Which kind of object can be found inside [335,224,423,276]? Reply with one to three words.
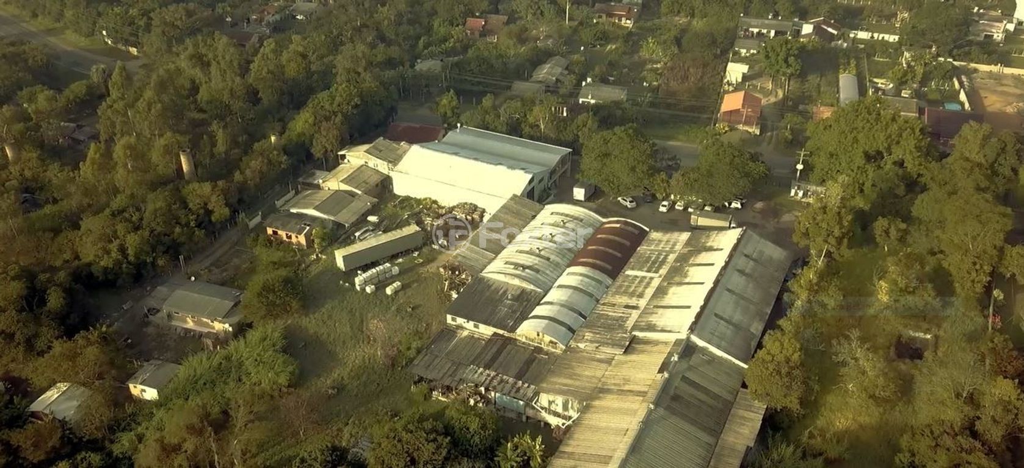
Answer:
trailer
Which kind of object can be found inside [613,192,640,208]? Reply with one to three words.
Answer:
car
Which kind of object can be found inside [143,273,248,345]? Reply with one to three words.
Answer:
house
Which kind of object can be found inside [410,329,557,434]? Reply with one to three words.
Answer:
shed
